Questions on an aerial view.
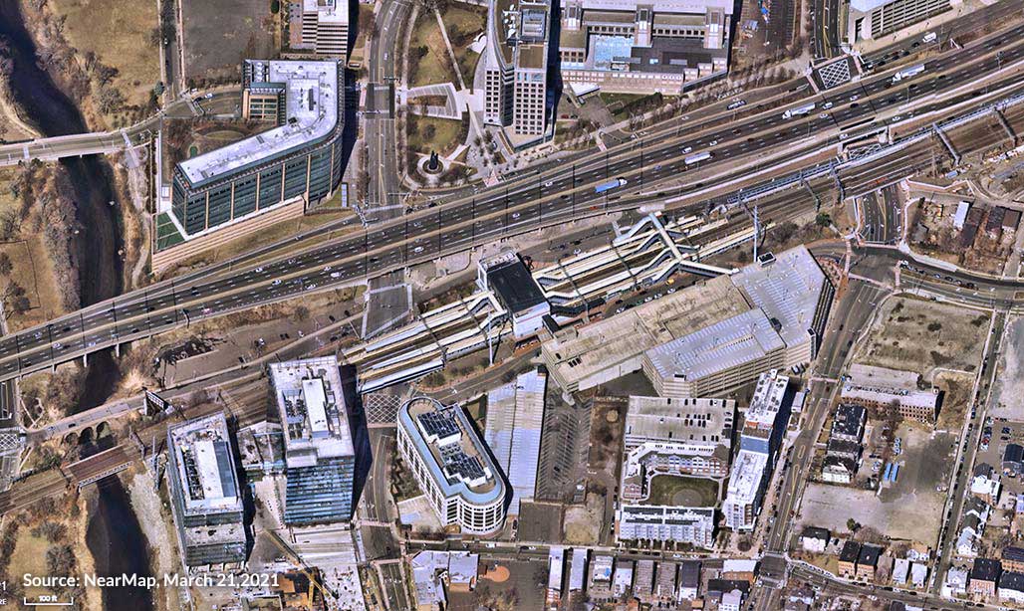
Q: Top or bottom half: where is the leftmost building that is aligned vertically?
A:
bottom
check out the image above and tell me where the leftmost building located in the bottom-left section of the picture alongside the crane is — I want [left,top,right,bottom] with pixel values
[167,411,247,574]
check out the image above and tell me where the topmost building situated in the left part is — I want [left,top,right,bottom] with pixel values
[302,0,349,57]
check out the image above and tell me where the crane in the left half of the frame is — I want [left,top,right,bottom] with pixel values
[262,528,339,611]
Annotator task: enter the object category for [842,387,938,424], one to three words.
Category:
building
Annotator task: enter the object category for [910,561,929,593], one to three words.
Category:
house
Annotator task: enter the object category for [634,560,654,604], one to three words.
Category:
building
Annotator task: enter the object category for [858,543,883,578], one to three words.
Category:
house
